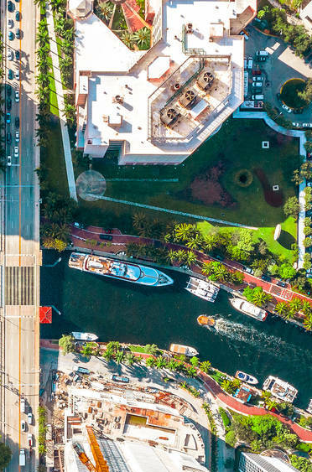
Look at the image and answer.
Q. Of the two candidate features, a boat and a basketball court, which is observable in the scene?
boat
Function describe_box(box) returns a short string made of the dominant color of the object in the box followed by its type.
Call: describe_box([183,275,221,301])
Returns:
white boat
